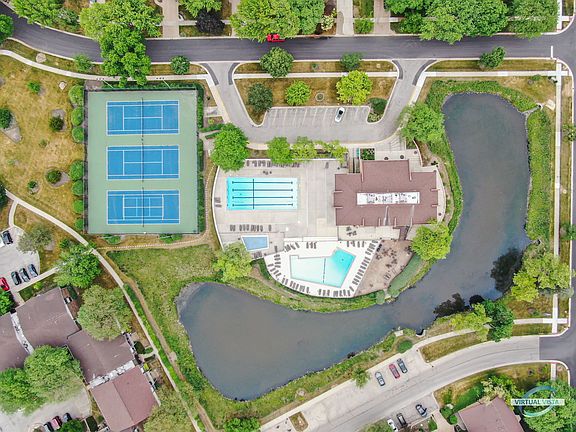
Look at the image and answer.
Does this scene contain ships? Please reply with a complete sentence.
No, no ship is visible in the view.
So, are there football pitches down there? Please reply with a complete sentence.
No, the photo shows no football pitch.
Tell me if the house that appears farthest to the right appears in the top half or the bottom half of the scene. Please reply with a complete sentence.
The bottom half of the photo is where the house that appears farthest to the right is.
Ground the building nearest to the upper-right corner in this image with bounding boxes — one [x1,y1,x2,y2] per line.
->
[332,148,440,226]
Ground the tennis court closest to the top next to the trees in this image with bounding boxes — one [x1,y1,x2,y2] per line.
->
[88,91,196,141]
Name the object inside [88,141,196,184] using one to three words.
tennis court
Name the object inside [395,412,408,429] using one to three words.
vehicle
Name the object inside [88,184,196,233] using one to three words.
tennis court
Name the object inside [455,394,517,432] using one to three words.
house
